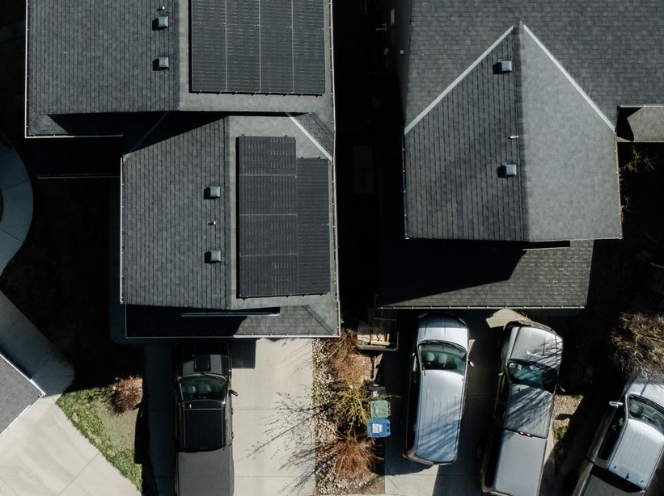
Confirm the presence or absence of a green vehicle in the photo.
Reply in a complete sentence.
No, the photo shows no green vehicle.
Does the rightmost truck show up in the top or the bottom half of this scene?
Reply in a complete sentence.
The rightmost truck is in the bottom half of the image.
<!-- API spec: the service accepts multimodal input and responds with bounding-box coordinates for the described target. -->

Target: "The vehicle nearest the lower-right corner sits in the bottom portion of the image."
[565,357,664,496]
